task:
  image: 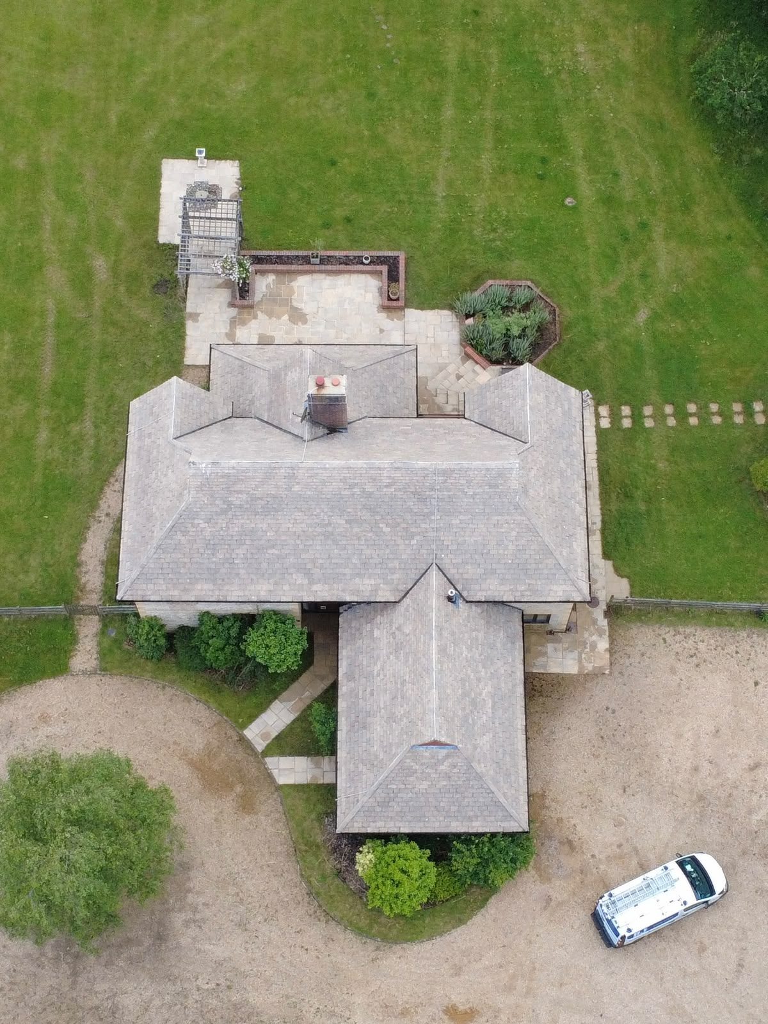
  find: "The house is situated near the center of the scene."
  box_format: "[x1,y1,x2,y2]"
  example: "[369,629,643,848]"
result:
[113,343,593,837]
